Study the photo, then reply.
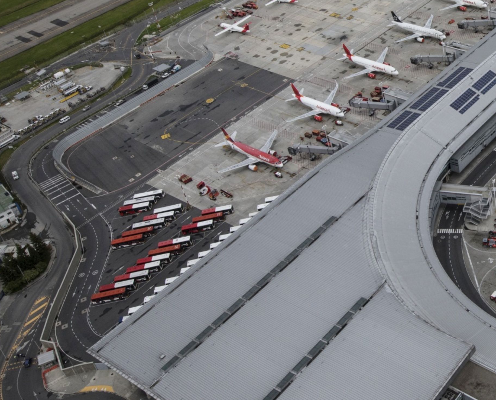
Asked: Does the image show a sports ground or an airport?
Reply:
airport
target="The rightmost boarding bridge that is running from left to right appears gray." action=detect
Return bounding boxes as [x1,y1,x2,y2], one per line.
[457,19,496,35]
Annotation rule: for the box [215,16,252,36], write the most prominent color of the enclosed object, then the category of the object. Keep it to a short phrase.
white airplane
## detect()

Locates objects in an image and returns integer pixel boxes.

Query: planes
[267,0,300,6]
[282,81,345,122]
[439,0,486,11]
[386,12,446,42]
[336,43,399,78]
[210,129,283,174]
[215,16,252,36]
